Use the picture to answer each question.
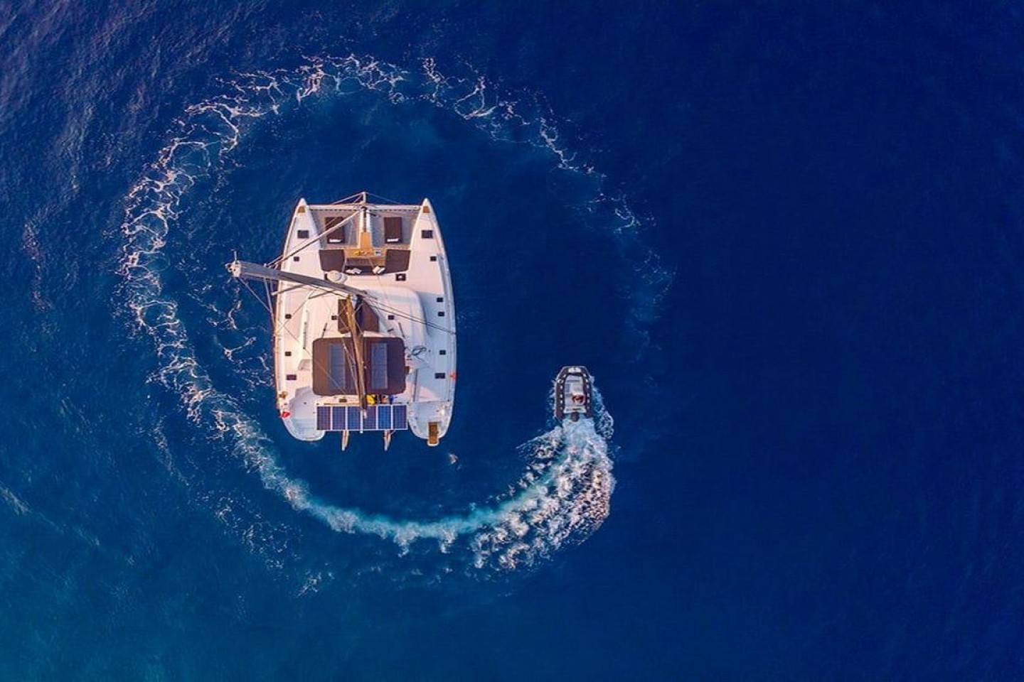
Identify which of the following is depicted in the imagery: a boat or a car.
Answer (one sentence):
Visible in the photo is a boat.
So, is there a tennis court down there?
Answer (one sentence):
No, the scene contains no tennis court.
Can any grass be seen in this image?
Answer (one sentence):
No, the scene doesn't show any grass.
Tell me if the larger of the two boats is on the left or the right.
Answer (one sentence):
It is on the left.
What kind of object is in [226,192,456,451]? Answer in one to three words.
boat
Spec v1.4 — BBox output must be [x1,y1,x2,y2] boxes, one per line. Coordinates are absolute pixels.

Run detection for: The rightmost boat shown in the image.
[556,365,593,421]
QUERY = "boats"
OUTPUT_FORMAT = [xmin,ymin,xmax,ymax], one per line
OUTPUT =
[226,192,456,451]
[556,365,593,421]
